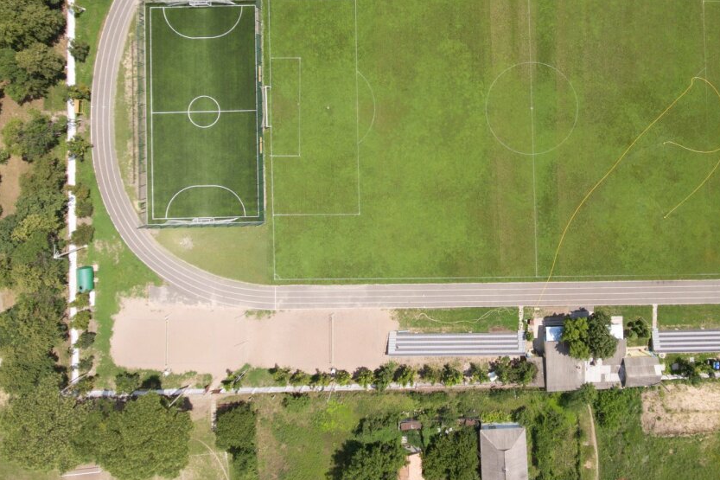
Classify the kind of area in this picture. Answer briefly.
sports ground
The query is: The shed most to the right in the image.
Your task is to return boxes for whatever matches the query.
[623,352,662,387]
